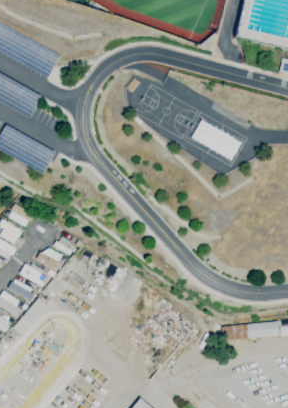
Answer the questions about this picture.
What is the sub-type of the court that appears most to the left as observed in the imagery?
basketball court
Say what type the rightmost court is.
basketball court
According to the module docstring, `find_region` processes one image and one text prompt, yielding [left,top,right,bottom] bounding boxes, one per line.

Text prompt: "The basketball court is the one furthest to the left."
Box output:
[136,85,198,140]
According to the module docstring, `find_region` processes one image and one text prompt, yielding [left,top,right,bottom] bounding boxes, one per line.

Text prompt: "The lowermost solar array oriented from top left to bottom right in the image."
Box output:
[0,124,55,173]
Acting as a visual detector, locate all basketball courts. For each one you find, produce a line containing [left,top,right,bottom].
[136,85,198,140]
[186,112,247,166]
